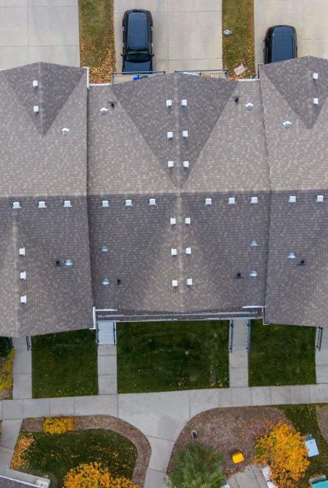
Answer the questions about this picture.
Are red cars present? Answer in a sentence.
No, no red car can be seen from above.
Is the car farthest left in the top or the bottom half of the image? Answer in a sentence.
It is in the top half that the car farthest left appears.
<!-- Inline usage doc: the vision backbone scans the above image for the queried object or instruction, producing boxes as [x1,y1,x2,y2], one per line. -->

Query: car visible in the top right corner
[263,17,300,64]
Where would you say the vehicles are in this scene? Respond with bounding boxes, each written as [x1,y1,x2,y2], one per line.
[118,1,158,77]
[263,17,300,64]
